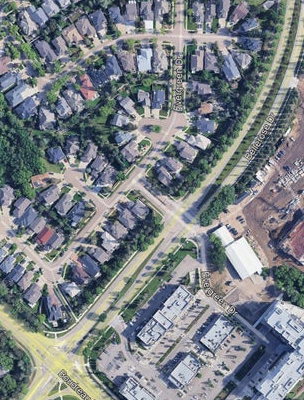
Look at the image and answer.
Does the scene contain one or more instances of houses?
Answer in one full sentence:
Yes, a house can be made out from above.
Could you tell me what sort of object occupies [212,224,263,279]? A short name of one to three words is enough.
building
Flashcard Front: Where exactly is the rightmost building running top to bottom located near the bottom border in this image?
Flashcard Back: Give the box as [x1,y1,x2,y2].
[253,295,304,400]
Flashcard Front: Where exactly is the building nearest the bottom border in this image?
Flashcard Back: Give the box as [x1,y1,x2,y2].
[119,378,156,400]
